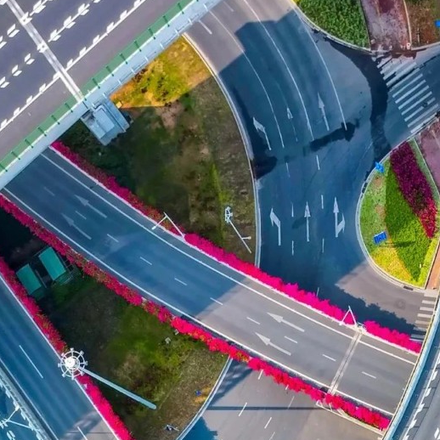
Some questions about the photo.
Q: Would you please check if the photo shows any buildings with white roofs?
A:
No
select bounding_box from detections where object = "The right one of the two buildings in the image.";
[38,245,72,284]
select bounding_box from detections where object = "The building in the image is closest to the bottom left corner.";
[18,263,47,298]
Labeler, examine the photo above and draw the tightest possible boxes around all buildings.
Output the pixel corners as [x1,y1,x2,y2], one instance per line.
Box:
[18,263,47,298]
[38,245,72,284]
